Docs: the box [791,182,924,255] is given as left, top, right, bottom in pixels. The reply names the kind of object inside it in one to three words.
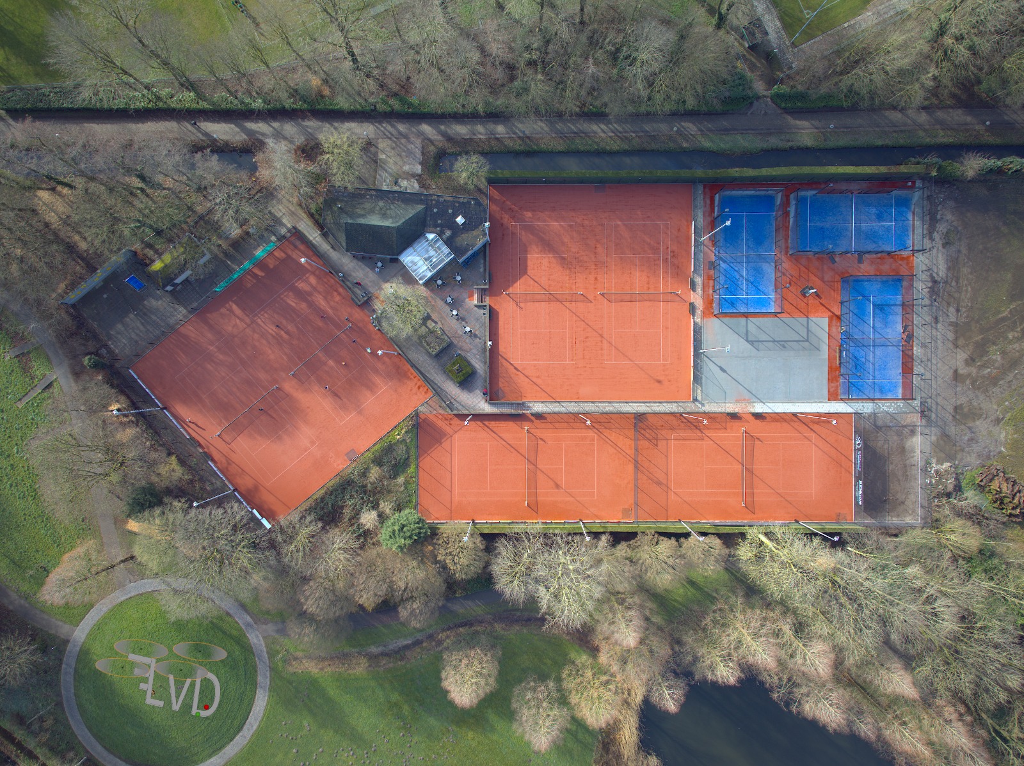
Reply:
sports court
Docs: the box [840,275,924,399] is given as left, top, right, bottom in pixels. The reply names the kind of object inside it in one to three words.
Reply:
sports court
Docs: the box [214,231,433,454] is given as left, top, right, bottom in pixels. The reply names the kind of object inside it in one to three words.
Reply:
tennis court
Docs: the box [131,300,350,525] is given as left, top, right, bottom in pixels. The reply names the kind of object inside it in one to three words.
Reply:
tennis court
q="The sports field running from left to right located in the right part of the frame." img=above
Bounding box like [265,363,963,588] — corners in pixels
[775,0,879,45]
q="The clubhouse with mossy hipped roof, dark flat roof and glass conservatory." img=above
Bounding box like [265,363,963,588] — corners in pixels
[322,185,490,286]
